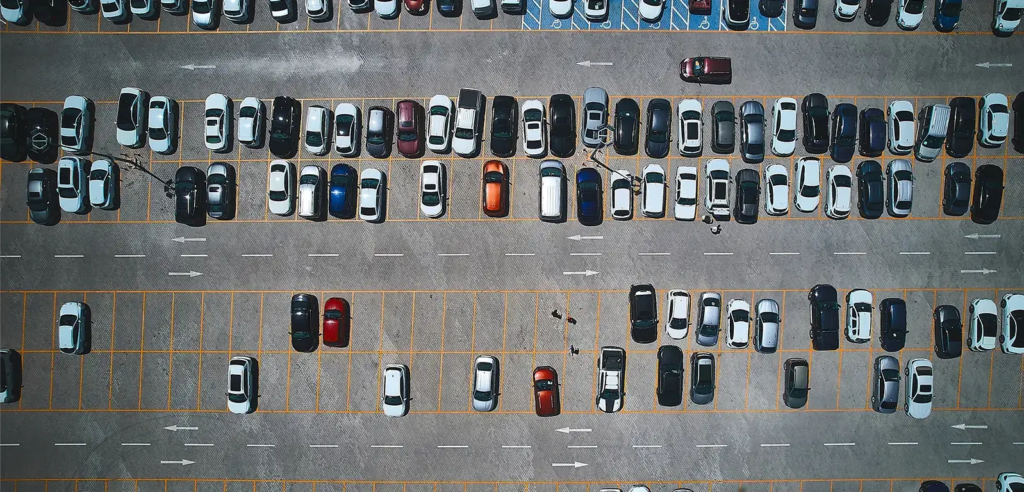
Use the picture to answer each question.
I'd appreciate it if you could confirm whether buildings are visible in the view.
No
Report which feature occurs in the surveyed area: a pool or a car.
car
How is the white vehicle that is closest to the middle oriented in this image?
up and down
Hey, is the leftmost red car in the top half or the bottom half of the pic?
bottom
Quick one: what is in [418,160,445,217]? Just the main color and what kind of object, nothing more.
white car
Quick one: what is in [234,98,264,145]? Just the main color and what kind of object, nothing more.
white car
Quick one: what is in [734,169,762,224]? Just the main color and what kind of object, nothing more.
black car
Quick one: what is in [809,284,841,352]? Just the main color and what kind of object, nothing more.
black truck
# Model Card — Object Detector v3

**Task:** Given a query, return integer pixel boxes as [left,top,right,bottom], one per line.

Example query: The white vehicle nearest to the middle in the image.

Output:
[538,160,565,221]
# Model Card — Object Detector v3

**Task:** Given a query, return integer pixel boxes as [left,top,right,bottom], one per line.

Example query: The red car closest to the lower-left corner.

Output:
[319,297,347,346]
